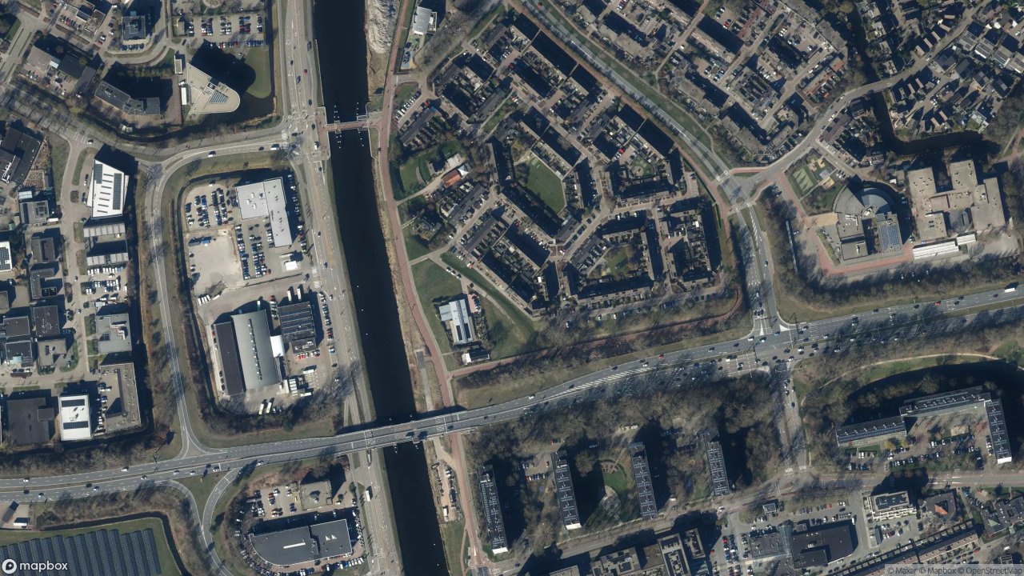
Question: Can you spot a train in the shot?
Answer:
No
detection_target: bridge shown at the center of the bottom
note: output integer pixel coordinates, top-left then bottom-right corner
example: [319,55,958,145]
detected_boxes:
[344,410,464,451]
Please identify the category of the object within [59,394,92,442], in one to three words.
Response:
building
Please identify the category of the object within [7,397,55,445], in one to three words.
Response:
building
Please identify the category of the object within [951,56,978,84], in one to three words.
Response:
house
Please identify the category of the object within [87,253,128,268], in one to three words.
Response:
shed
